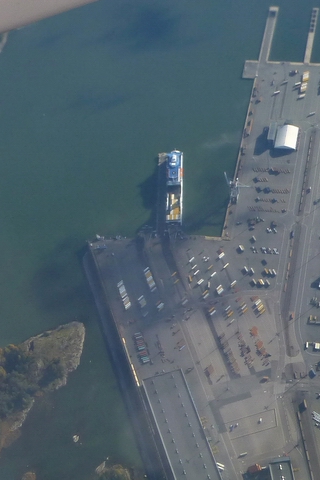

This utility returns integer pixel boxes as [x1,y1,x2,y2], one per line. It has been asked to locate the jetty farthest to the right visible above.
[304,8,319,64]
